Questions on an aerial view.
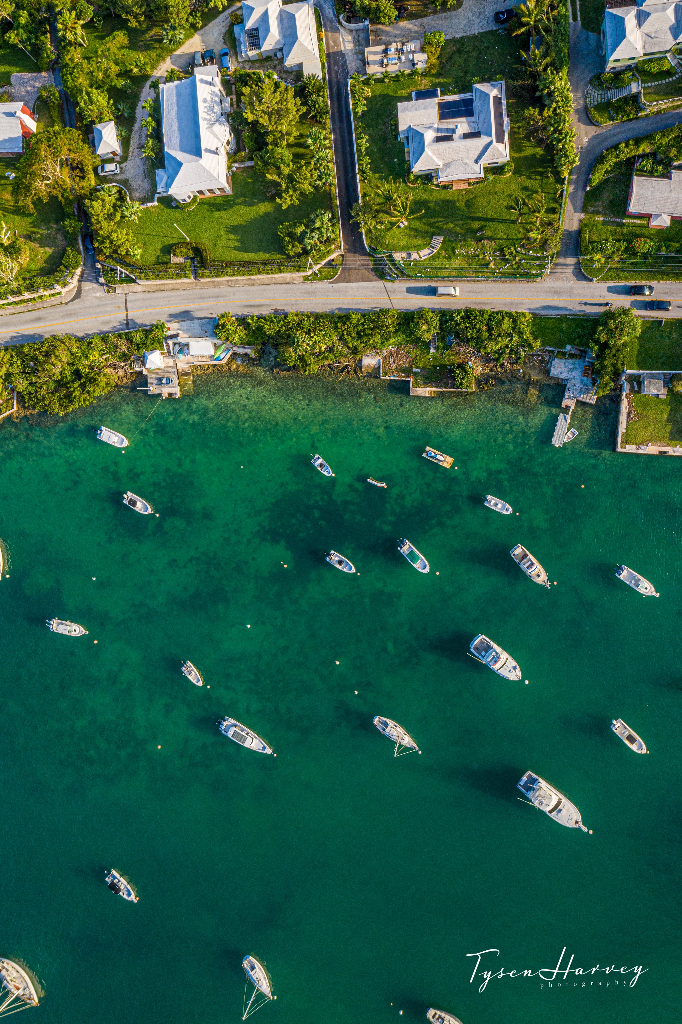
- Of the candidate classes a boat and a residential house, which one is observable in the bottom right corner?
boat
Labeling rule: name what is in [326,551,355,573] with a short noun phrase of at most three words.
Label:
boat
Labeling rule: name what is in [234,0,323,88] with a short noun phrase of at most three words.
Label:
house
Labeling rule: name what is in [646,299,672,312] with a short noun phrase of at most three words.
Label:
vehicle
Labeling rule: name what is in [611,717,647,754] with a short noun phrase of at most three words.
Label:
boat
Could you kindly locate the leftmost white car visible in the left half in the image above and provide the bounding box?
[99,164,119,176]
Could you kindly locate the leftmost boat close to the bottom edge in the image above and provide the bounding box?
[0,952,39,1019]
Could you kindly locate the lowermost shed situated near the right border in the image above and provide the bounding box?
[640,373,663,395]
